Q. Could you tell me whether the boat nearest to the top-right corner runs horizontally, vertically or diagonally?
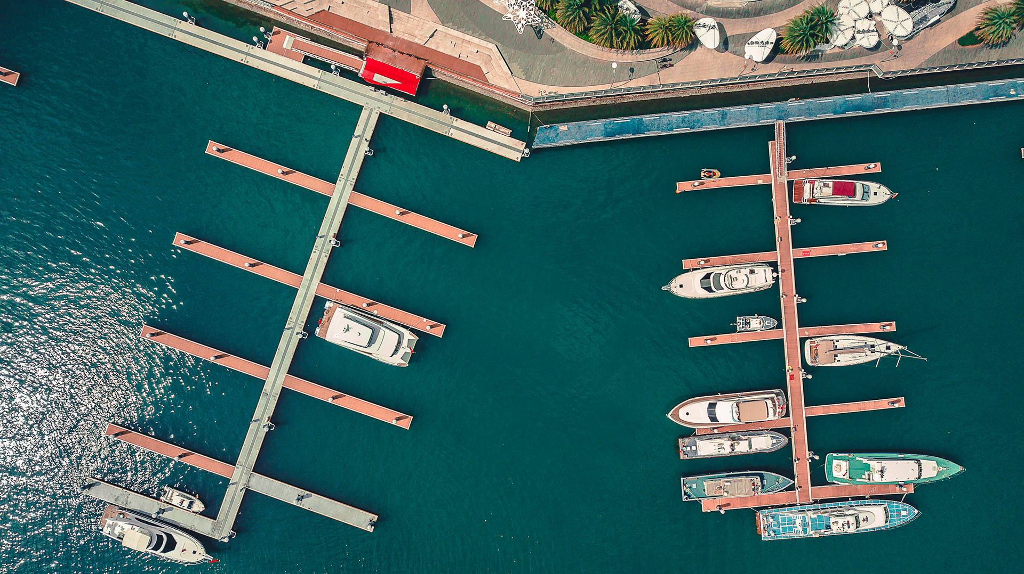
horizontally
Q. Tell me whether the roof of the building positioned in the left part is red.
Yes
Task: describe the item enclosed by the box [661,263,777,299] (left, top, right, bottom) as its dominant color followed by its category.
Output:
white boat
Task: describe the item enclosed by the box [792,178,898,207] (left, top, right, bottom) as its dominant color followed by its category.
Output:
white boat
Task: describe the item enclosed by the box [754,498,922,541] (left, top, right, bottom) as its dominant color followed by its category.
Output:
white ship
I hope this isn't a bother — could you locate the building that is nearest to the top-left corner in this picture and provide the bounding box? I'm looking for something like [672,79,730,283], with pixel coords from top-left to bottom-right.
[356,38,425,100]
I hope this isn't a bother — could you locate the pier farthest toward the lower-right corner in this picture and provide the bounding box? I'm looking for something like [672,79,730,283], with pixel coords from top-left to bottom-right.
[811,483,914,499]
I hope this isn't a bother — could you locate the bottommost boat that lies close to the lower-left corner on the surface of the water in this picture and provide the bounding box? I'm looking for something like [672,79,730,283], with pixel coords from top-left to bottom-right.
[99,505,219,567]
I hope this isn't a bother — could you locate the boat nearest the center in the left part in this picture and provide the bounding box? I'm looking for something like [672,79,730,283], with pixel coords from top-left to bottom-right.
[315,301,418,366]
